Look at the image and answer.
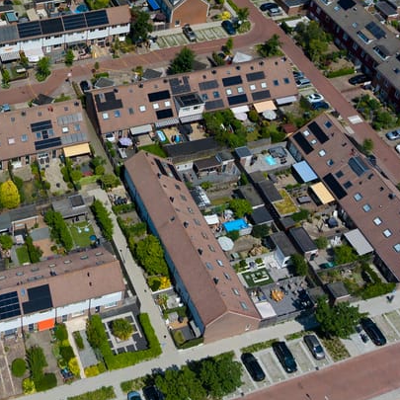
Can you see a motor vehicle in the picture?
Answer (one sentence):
Yes, looking at the shot, I can spot a motor vehicle.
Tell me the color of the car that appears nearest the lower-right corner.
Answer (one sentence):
The car that appears nearest the lower-right corner is black.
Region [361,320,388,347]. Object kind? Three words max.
car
